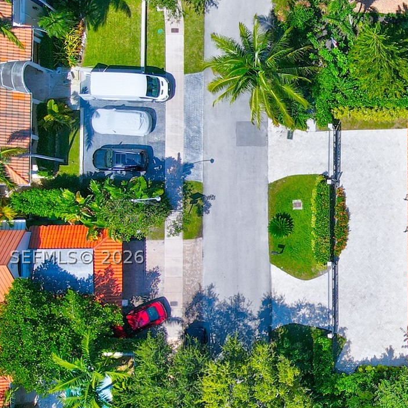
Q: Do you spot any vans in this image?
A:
Yes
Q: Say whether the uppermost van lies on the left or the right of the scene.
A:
left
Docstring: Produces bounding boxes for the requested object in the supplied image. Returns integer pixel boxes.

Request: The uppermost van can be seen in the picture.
[80,64,169,98]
